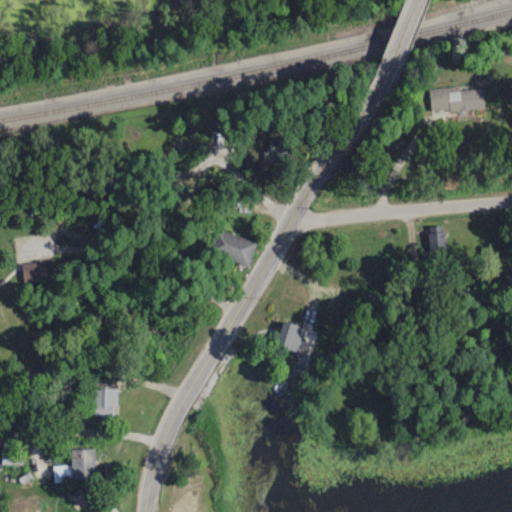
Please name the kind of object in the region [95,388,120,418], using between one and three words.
house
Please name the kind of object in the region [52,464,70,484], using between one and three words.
shed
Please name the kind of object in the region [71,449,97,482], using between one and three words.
house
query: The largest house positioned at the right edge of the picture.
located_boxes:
[431,88,487,114]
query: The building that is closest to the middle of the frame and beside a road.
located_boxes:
[212,231,258,268]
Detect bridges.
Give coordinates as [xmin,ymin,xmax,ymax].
[381,0,429,66]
